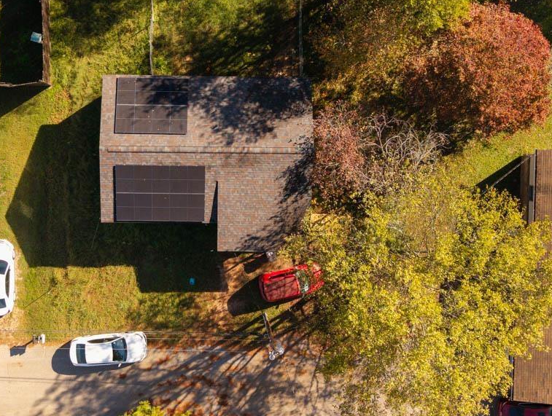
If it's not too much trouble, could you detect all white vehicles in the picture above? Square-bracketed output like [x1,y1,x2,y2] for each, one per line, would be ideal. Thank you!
[69,330,148,366]
[0,238,18,317]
